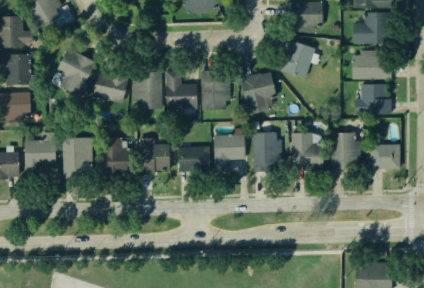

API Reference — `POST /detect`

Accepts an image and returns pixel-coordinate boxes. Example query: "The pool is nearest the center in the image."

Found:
[214,122,236,134]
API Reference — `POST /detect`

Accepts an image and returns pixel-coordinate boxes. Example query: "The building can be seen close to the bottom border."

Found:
[355,262,392,288]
